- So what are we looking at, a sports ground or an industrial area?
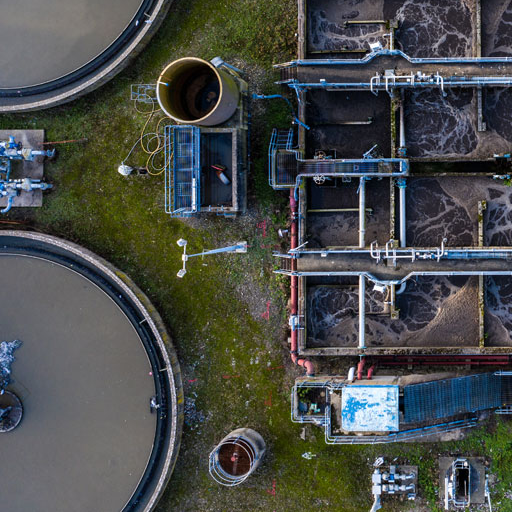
industrial area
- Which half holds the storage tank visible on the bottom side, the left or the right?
left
